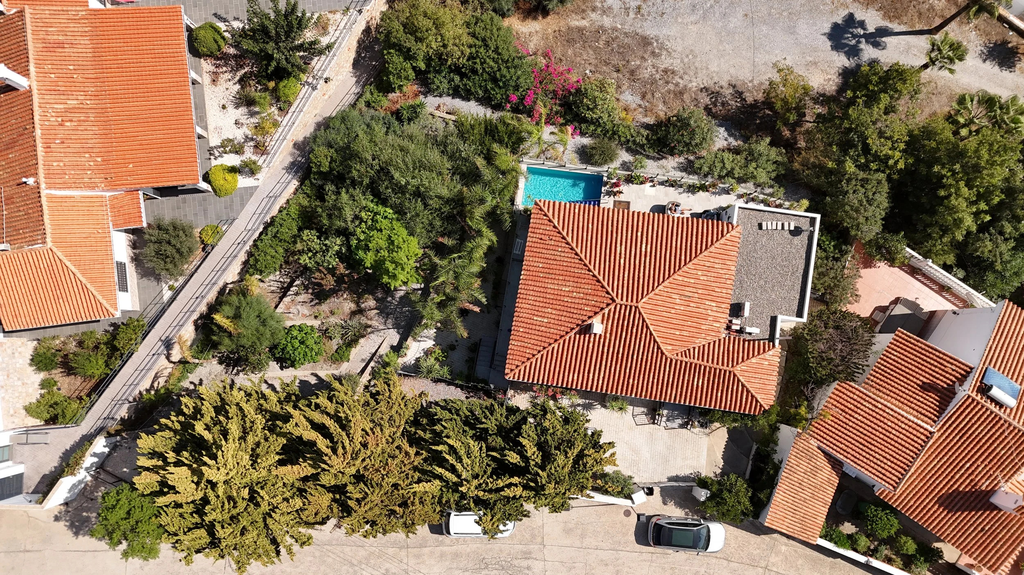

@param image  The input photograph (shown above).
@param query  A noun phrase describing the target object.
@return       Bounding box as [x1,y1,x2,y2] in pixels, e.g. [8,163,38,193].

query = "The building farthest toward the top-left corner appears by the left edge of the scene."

[0,0,209,337]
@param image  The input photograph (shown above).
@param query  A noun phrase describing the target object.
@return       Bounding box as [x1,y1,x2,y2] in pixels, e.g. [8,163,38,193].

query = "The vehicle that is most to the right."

[647,515,725,557]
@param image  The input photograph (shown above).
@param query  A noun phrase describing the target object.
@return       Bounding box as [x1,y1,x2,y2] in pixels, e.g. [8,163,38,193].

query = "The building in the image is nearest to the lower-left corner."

[0,443,31,515]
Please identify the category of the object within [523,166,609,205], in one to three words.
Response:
swimming pool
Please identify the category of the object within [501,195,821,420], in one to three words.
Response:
house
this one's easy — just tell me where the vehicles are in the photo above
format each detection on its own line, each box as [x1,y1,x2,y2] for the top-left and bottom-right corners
[443,507,516,545]
[647,515,725,557]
